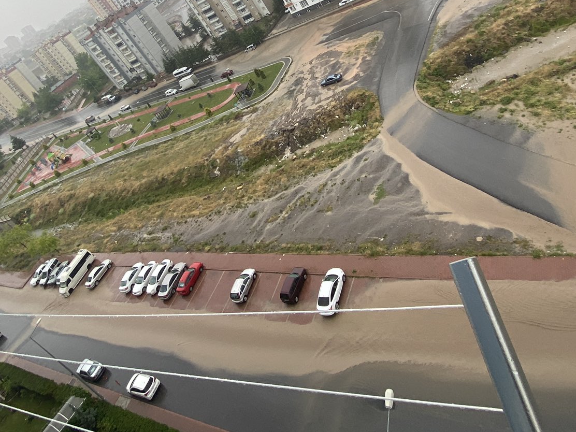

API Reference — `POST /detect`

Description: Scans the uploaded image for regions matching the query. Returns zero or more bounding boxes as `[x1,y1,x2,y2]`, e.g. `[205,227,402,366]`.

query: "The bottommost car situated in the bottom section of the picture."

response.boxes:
[122,372,160,403]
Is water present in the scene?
Yes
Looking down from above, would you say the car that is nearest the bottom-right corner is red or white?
white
